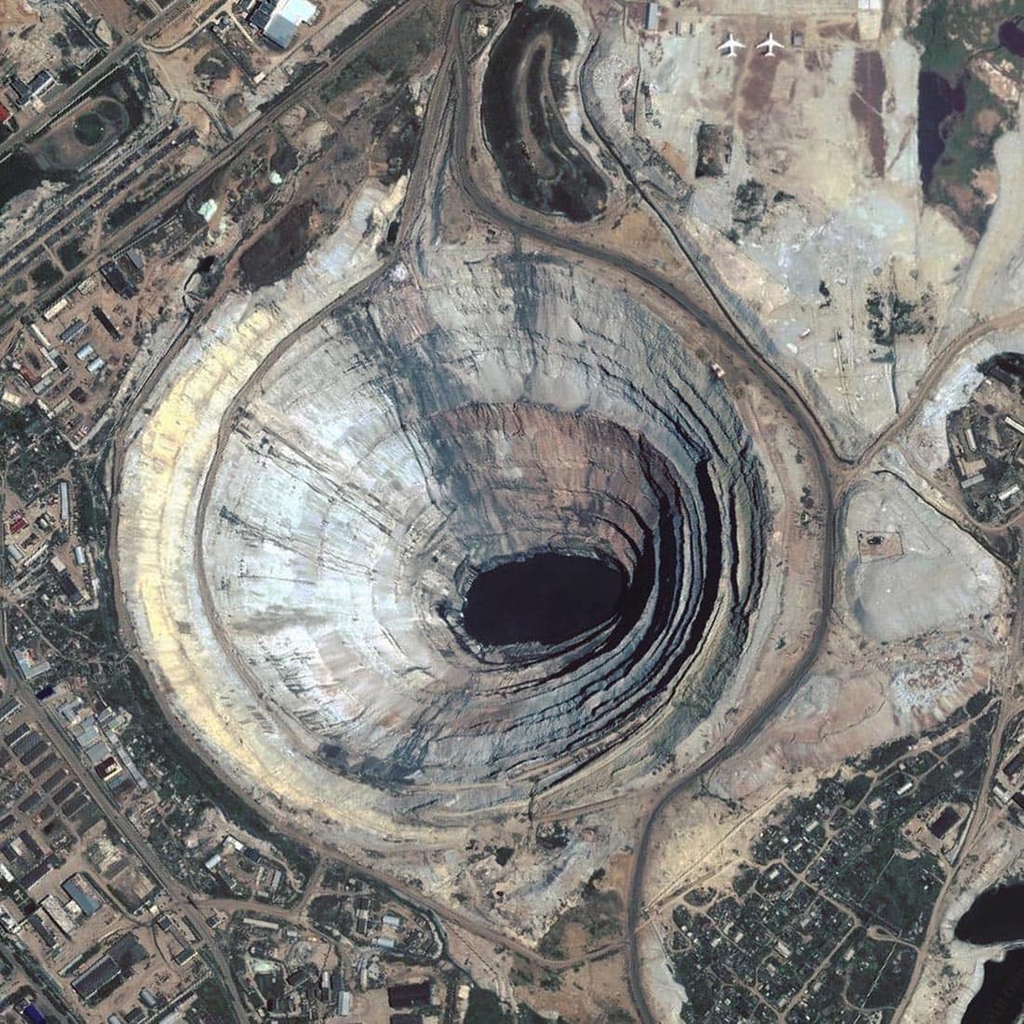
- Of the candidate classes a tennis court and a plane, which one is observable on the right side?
plane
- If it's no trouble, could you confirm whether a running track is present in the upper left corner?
Yes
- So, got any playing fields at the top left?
Yes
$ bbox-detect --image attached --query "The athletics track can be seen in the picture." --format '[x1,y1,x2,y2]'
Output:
[34,94,128,168]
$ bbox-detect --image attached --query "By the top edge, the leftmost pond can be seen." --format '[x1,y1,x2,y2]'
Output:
[481,4,609,222]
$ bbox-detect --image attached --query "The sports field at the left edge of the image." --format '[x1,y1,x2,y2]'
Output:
[34,94,128,168]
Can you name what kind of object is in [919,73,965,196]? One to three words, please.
pond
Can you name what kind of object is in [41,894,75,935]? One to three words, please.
building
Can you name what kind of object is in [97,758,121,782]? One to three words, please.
building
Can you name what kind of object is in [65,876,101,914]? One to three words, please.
hangar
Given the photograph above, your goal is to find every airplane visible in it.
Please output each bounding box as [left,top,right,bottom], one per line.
[719,33,745,57]
[758,33,783,56]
